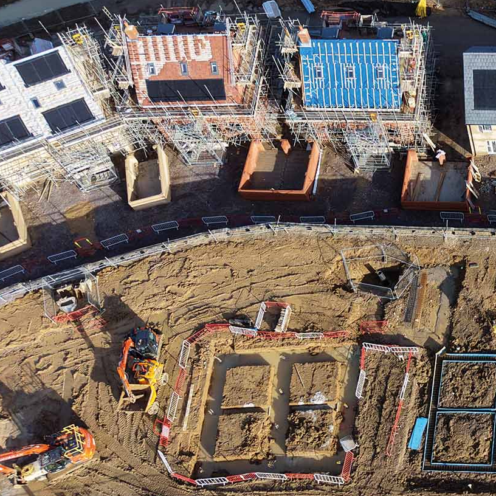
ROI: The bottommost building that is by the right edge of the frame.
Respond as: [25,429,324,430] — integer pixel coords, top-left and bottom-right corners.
[400,149,488,218]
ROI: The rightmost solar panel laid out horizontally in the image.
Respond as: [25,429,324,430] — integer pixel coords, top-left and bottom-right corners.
[152,78,221,99]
